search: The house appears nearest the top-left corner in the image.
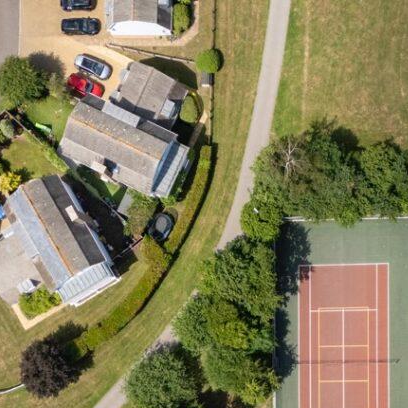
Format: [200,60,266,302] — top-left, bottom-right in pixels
[106,0,172,37]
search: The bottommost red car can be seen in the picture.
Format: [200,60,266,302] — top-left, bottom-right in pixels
[66,73,103,100]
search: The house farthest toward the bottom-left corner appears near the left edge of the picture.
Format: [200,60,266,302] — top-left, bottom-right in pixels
[0,173,123,310]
